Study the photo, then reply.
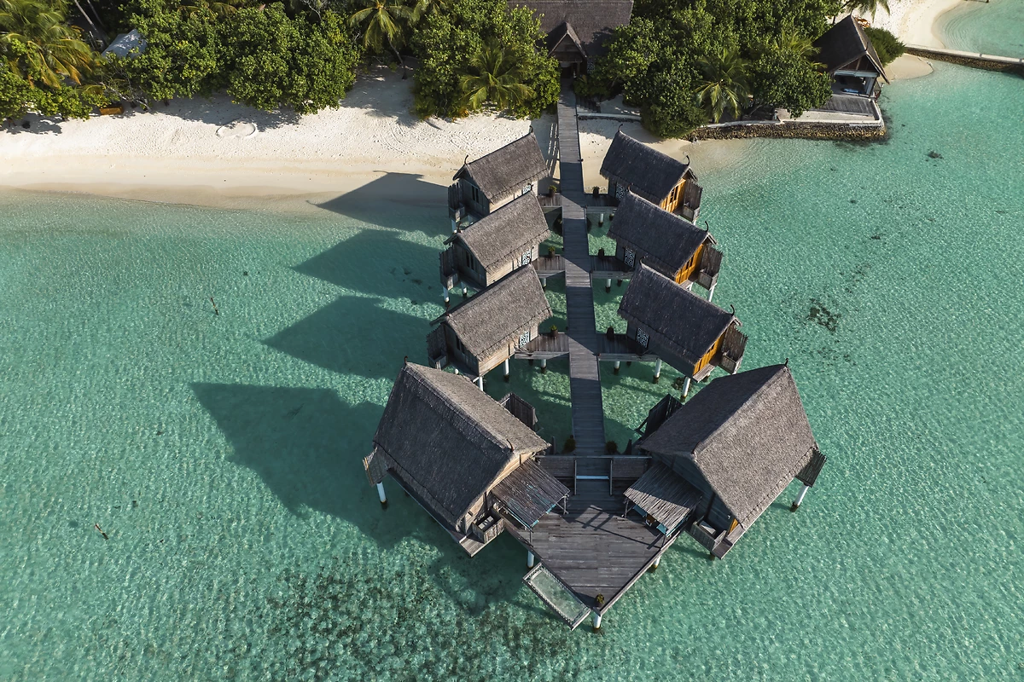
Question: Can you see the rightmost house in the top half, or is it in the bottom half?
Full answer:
The rightmost house is in the top half of the image.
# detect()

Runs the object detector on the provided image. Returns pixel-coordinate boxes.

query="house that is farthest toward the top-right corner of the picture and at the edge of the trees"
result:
[813,10,887,97]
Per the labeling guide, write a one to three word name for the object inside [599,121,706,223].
shed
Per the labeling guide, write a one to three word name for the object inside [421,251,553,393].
shed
